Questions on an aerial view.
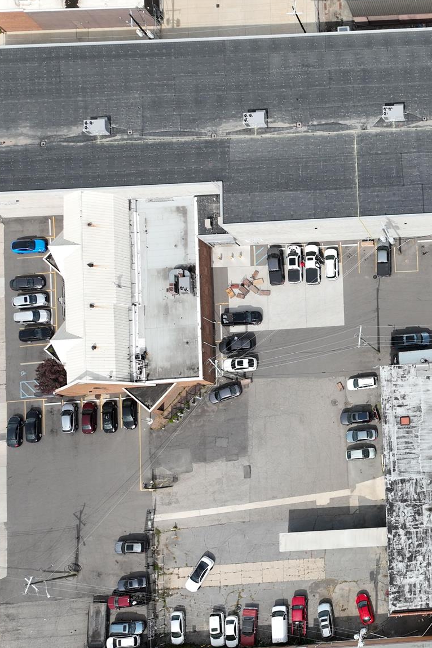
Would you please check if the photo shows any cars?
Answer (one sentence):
Yes, this view includes a car.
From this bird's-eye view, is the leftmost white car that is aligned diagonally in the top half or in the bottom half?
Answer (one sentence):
The bottom half of the photo is where the leftmost white car that is aligned diagonally is.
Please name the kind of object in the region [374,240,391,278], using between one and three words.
vehicle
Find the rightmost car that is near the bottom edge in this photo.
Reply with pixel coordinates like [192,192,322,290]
[356,593,374,625]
